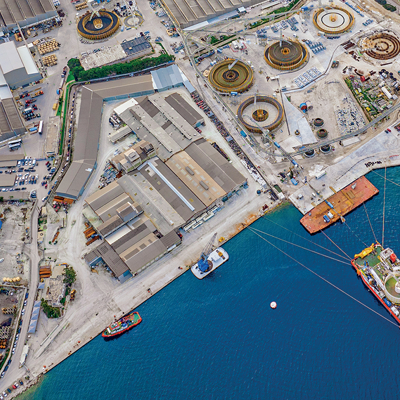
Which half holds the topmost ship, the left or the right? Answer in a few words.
right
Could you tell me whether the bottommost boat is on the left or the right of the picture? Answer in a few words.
left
